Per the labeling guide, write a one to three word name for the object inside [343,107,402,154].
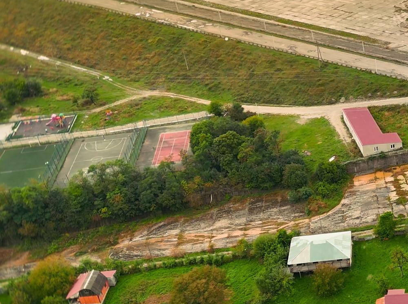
building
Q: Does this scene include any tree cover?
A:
Yes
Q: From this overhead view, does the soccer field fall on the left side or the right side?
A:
left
